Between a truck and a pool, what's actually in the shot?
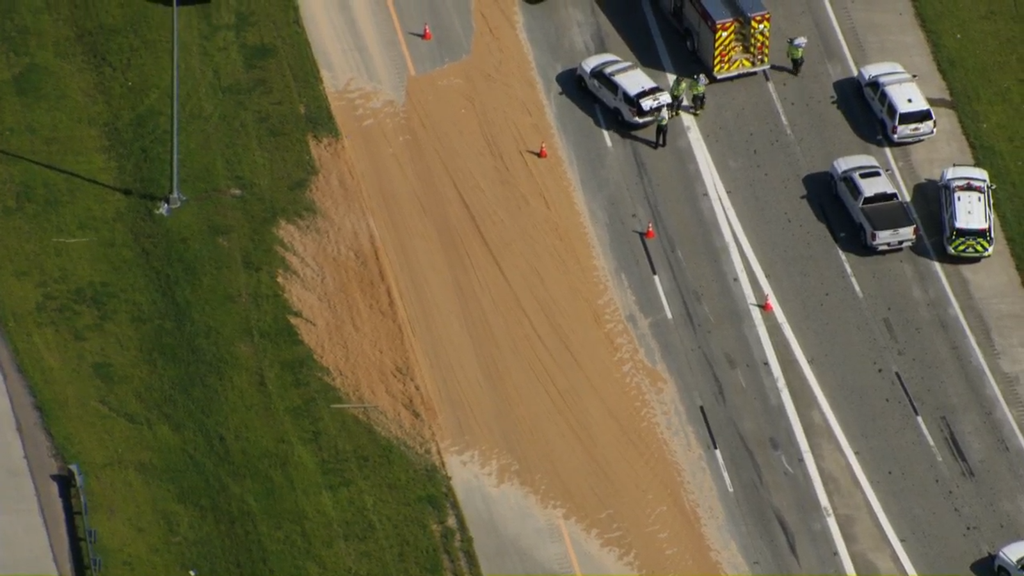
truck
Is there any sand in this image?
Yes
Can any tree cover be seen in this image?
No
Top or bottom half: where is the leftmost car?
top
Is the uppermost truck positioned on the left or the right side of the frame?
right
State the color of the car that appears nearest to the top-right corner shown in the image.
white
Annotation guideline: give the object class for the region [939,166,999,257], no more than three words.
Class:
car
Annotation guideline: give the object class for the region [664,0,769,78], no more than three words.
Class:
truck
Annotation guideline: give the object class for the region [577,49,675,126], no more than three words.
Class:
car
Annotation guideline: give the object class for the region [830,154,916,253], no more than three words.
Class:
truck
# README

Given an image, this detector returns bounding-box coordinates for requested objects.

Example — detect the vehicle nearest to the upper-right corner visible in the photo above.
[860,63,936,145]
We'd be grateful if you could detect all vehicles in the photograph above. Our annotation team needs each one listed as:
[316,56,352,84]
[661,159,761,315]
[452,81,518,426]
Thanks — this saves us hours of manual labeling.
[860,63,936,145]
[939,166,999,257]
[664,0,769,78]
[996,543,1024,576]
[577,49,675,126]
[830,154,916,253]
